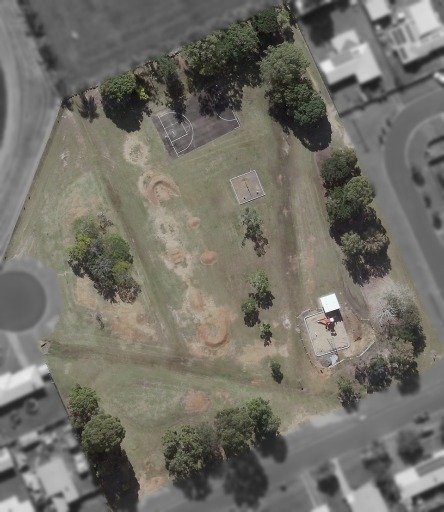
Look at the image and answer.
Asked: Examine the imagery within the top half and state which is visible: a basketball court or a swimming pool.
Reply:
basketball court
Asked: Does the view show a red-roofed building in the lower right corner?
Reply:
No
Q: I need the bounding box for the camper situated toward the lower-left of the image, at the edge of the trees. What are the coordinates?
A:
[74,454,88,472]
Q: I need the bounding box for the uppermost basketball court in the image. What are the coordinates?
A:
[152,82,242,160]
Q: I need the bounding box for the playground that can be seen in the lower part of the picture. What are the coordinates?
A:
[304,306,350,356]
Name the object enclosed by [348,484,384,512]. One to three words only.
house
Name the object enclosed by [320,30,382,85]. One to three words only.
house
